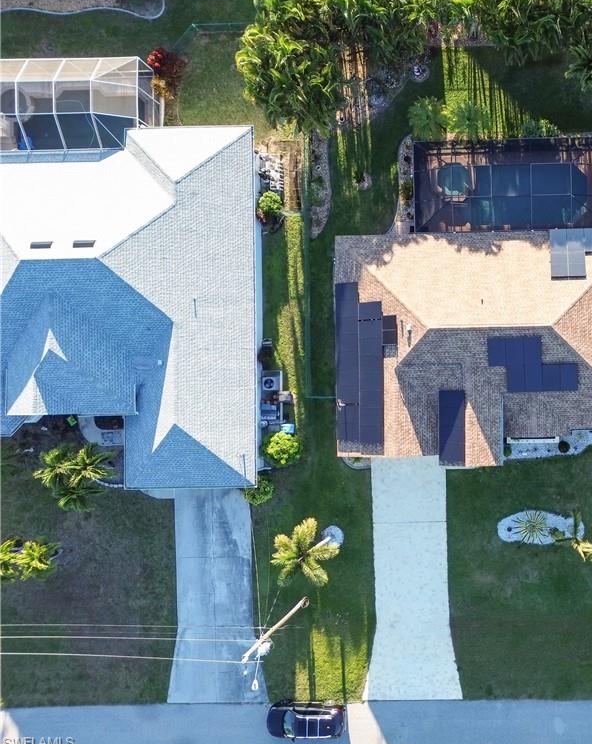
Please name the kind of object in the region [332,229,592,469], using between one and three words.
house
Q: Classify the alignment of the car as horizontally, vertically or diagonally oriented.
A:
horizontally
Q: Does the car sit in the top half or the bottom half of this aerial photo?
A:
bottom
